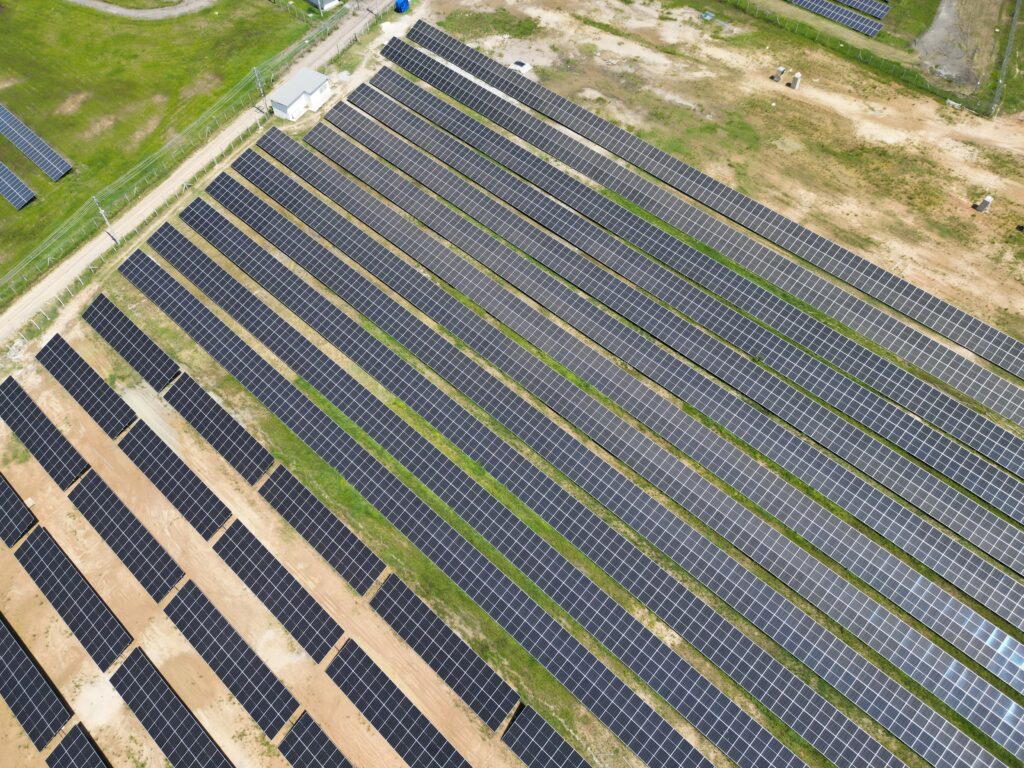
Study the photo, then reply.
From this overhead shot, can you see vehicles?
No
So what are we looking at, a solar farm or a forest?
solar farm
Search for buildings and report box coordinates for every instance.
[298,0,347,21]
[269,67,332,121]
